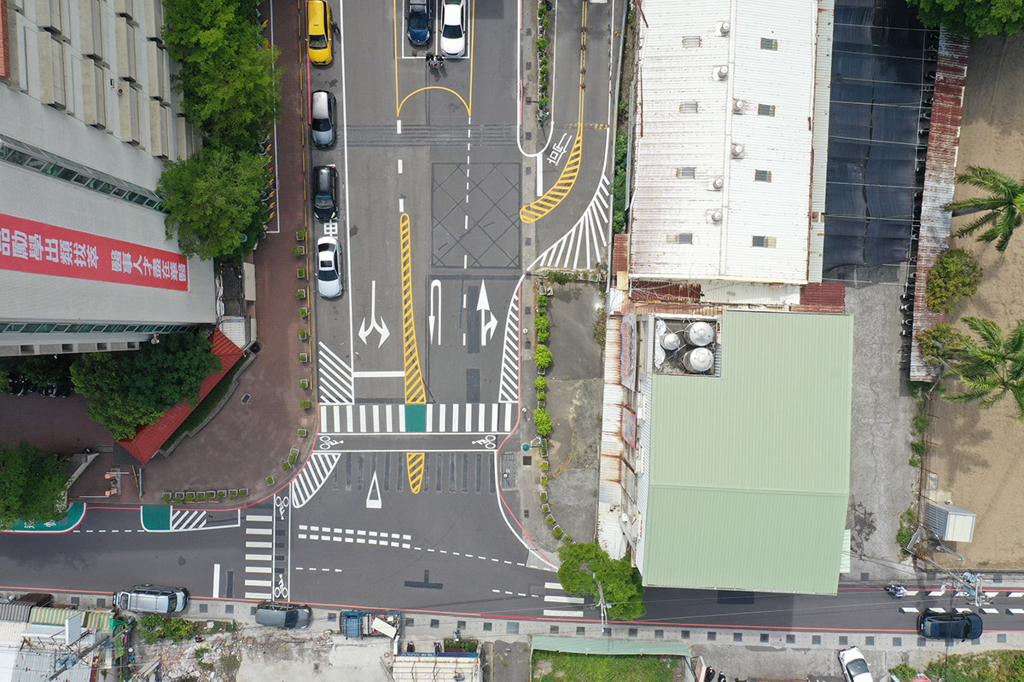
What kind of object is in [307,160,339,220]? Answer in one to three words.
car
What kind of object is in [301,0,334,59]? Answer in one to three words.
car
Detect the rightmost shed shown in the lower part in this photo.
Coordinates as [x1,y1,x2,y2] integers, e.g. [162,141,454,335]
[923,503,978,544]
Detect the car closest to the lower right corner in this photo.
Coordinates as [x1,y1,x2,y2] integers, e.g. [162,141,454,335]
[917,610,984,645]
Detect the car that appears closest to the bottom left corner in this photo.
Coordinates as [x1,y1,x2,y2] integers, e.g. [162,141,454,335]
[107,583,185,618]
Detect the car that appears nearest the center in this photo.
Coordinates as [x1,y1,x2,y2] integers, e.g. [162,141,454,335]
[312,234,343,298]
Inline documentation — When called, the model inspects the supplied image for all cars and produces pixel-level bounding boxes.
[251,600,312,634]
[301,0,334,59]
[312,234,343,298]
[307,160,339,220]
[917,610,984,645]
[403,0,433,40]
[838,643,877,682]
[107,583,185,618]
[438,0,469,56]
[305,85,337,147]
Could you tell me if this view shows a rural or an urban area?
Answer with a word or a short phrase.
urban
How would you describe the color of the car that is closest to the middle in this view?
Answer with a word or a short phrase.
white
